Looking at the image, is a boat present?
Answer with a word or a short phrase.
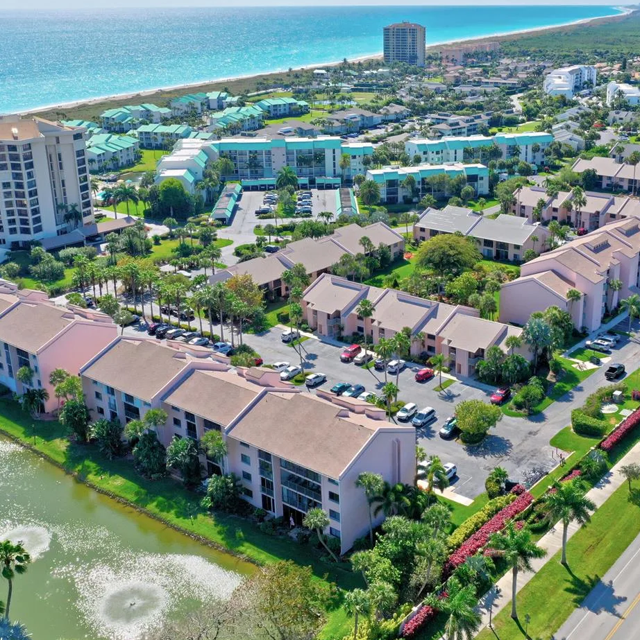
No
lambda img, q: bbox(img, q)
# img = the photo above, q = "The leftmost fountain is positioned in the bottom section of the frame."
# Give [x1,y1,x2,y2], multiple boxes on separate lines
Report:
[0,528,61,573]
